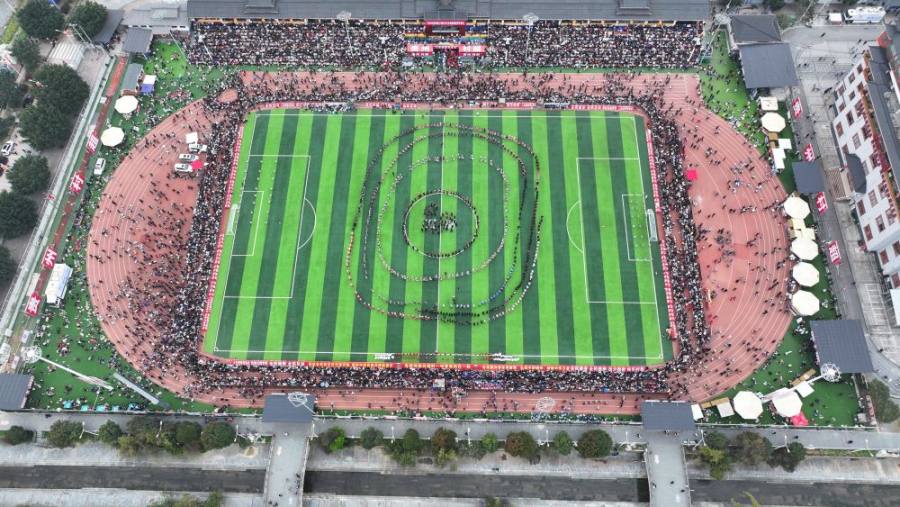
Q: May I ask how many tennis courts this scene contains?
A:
none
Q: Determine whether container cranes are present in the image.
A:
No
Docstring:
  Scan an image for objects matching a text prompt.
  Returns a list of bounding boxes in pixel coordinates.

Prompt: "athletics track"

[87,71,794,415]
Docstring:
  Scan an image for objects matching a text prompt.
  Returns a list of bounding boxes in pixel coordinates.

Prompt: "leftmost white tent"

[45,264,76,303]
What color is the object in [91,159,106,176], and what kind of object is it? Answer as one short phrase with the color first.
white car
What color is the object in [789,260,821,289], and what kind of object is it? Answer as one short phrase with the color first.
white umbrella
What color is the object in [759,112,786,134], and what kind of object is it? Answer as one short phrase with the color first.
white umbrella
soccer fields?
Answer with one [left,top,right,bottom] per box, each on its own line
[199,109,679,366]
